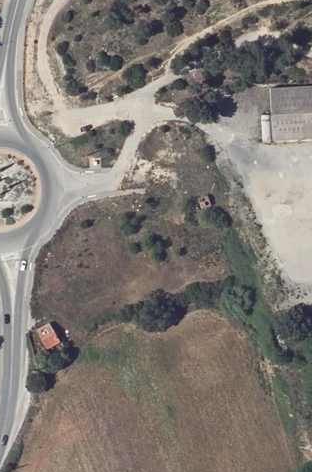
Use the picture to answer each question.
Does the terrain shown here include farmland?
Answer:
Yes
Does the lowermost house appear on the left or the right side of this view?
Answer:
left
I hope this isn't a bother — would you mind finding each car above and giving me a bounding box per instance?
[20,260,26,270]
[2,434,8,445]
[81,124,92,132]
[4,314,10,324]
